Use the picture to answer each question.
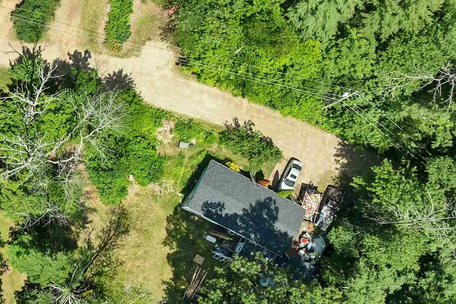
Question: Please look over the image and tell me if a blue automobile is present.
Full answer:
No, there isn't any blue automobile down there.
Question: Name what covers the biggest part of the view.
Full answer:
The scene is dominated by trees.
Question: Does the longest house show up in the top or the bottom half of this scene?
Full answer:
It is in the bottom half that the longest house appears.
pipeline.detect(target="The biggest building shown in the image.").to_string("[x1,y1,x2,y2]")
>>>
[183,159,307,256]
